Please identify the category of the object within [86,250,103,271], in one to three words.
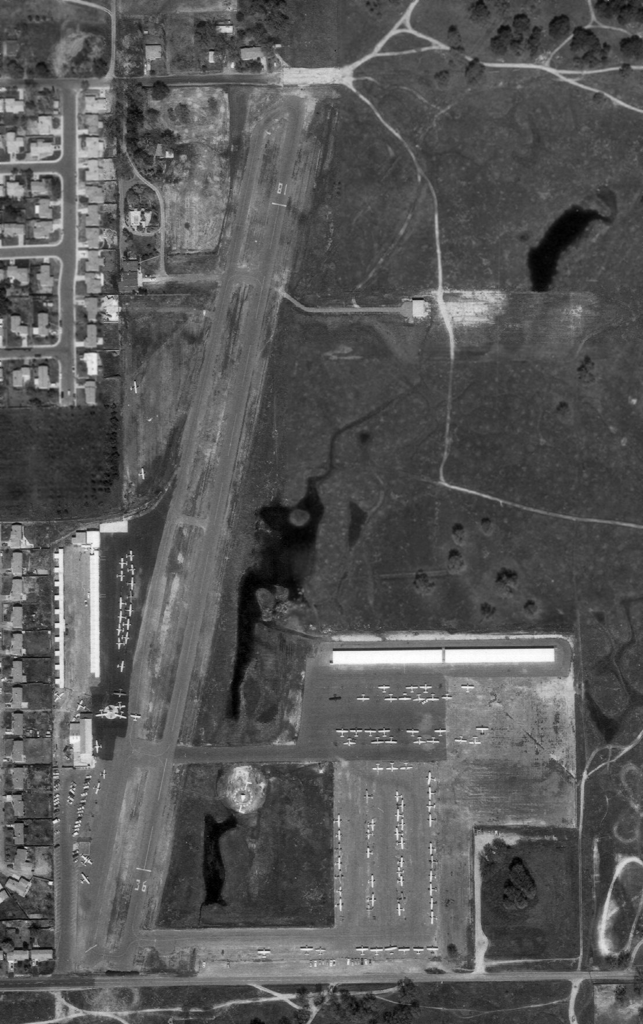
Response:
house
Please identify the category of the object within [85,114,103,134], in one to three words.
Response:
house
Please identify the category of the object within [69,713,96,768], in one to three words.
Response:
building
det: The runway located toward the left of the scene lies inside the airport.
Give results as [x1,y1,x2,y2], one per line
[125,98,305,940]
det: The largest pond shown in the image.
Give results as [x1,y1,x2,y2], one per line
[231,479,324,719]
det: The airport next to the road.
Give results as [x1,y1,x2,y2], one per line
[54,96,573,974]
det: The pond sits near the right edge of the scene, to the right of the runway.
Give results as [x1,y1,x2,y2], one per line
[528,205,611,292]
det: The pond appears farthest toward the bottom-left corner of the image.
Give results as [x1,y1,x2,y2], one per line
[203,813,237,906]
